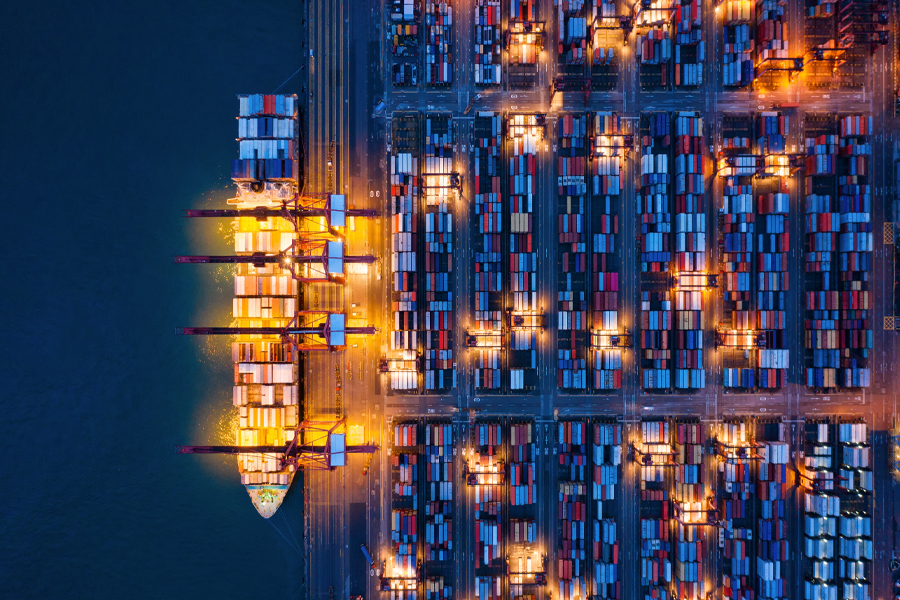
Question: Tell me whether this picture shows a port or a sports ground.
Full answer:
The picture captures a port.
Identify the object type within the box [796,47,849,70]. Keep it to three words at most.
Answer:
container crane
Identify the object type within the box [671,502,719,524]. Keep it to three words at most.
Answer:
container crane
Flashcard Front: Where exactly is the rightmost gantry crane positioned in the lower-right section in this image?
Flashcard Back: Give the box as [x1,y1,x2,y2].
[796,471,849,492]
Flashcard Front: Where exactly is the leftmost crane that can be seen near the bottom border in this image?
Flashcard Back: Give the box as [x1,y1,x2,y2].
[380,567,421,591]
